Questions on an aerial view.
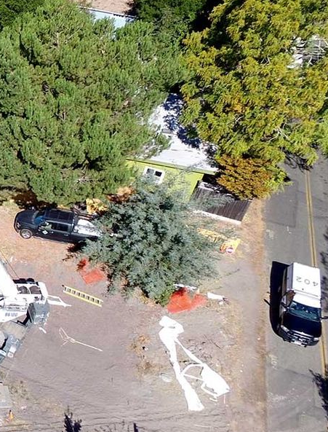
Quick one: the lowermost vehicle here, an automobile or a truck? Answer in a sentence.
The lowermost vehicle appears to be a truck.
